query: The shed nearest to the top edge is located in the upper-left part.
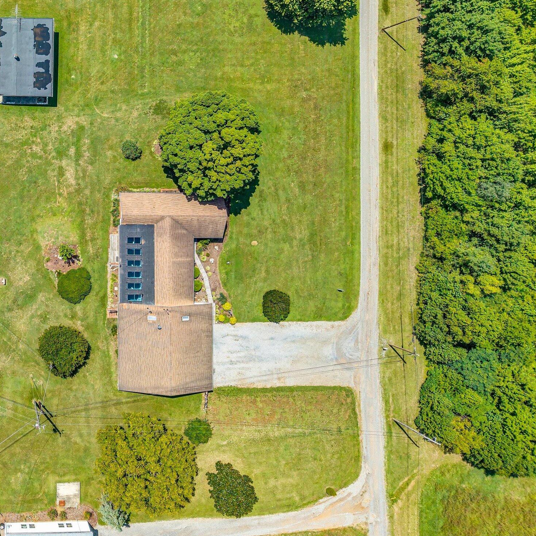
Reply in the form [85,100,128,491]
[0,17,54,104]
